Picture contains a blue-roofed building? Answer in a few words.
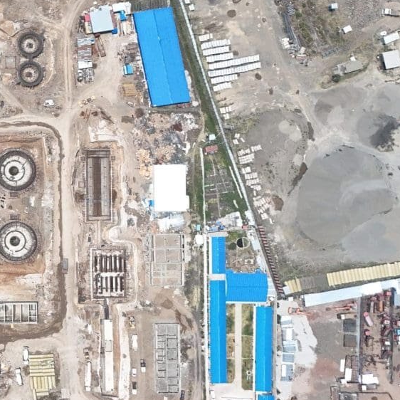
Yes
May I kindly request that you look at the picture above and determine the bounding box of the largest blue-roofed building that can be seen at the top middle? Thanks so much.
[129,8,190,108]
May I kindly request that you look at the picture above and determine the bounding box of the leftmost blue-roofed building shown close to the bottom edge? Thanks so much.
[206,280,226,383]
